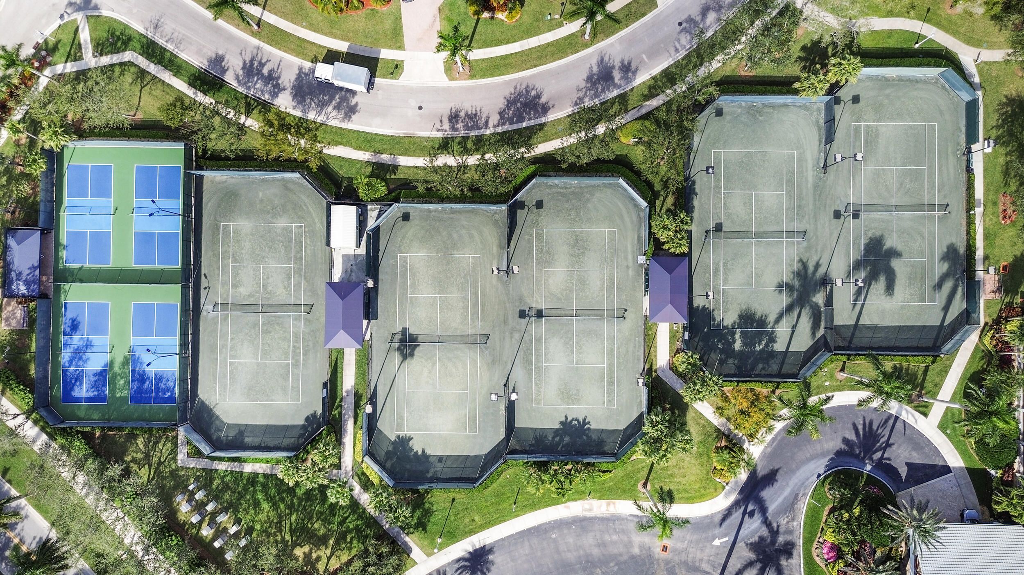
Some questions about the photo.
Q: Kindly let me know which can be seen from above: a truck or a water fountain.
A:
truck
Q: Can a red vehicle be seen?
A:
No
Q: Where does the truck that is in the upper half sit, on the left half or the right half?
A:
left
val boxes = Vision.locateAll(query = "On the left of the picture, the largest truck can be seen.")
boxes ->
[316,60,376,92]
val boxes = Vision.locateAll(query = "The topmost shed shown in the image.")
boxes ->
[330,205,361,251]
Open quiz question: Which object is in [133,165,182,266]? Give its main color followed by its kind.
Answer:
blue sports court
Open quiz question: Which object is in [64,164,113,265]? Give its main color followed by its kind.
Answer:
blue sports court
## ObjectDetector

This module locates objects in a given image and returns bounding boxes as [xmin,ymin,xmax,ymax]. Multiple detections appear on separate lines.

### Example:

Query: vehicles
[316,60,376,92]
[962,509,983,523]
